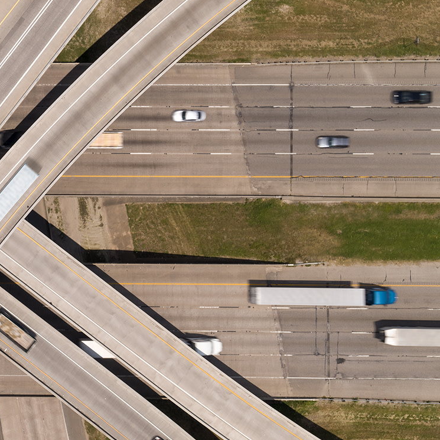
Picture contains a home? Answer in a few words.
No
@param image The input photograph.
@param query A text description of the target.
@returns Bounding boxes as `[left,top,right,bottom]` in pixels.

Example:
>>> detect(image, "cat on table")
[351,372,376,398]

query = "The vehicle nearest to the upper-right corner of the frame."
[392,90,431,104]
